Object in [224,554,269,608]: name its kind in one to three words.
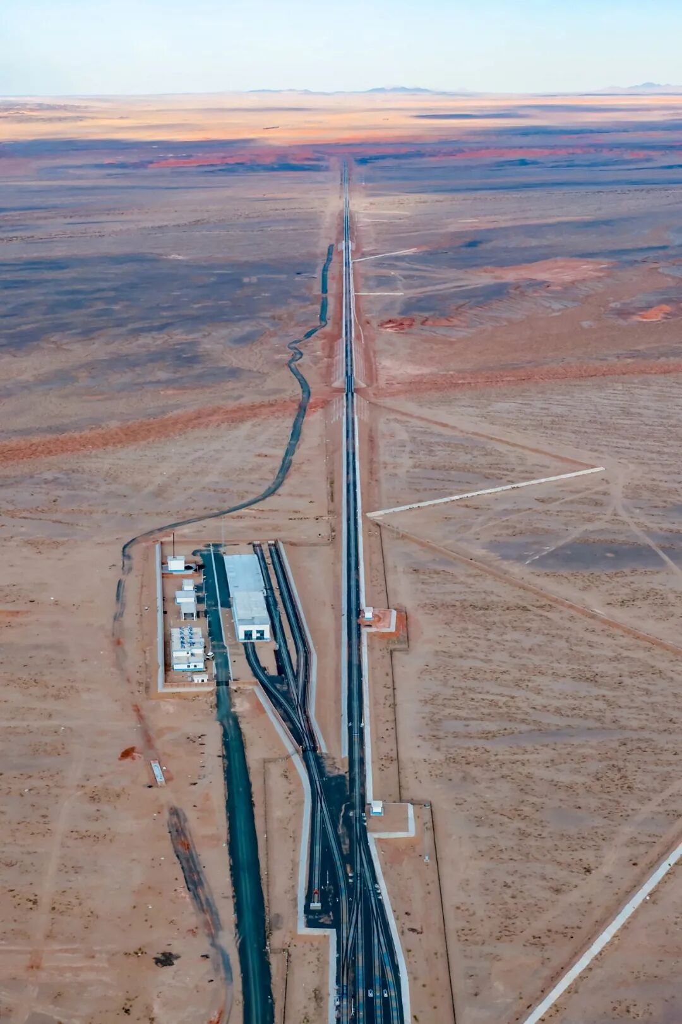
building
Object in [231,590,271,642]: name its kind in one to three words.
shed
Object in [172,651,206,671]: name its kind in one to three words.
building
